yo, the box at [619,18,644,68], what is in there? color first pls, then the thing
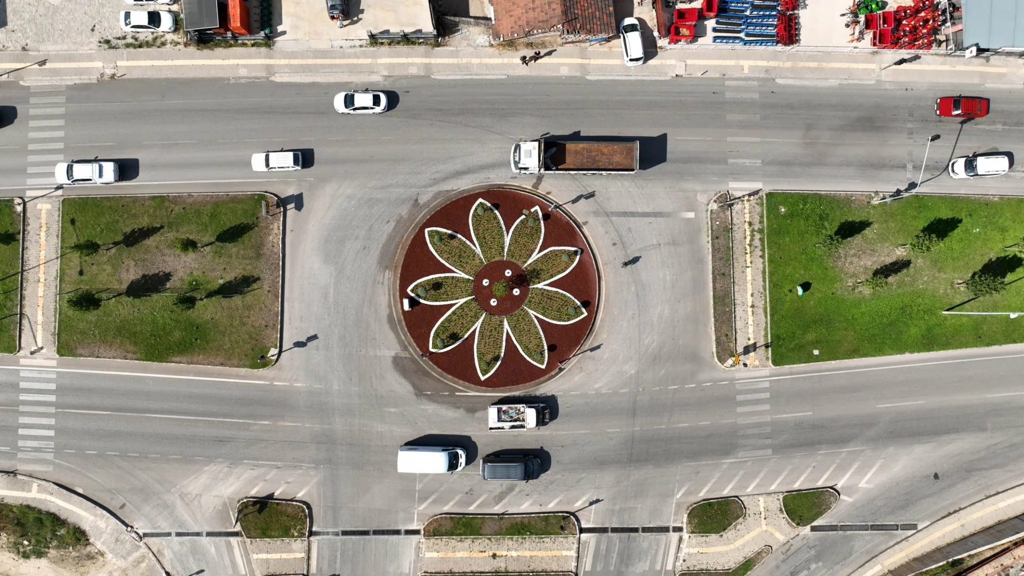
white car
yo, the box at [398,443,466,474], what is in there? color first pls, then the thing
white van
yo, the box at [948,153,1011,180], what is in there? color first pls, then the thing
white car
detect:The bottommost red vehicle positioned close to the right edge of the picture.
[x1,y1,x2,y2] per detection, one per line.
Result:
[934,95,989,119]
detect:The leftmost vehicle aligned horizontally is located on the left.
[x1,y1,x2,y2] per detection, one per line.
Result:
[57,161,122,186]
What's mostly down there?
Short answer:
paved ground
